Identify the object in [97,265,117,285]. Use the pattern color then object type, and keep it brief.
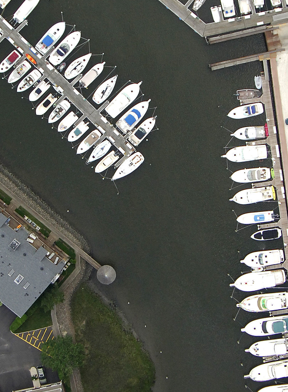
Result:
gray gazebo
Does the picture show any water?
Yes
